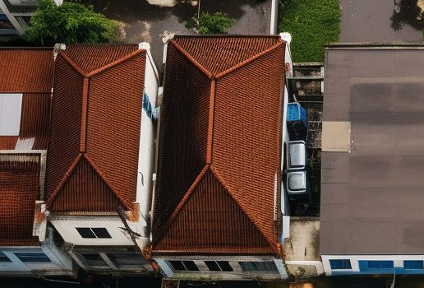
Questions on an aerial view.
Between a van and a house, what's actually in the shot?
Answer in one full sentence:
Visible in the photo is a house.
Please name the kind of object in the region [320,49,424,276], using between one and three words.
building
